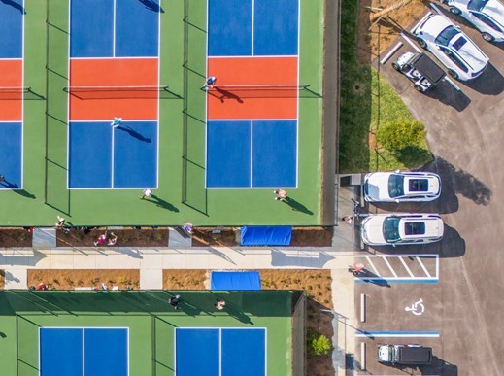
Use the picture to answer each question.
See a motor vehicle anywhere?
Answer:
Yes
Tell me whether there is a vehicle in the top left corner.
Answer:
No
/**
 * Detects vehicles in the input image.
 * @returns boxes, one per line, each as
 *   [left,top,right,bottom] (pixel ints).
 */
[361,210,444,248]
[417,15,486,79]
[393,48,444,91]
[363,167,441,204]
[375,341,431,367]
[448,0,504,40]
